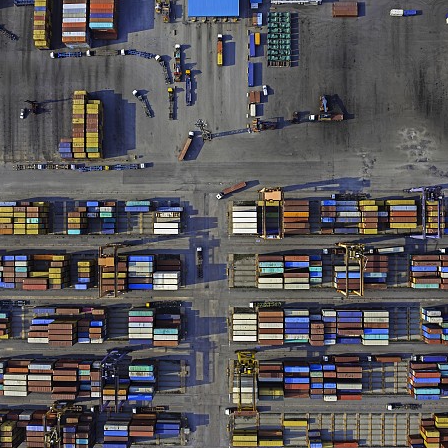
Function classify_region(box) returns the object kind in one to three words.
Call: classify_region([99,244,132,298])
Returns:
container crane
